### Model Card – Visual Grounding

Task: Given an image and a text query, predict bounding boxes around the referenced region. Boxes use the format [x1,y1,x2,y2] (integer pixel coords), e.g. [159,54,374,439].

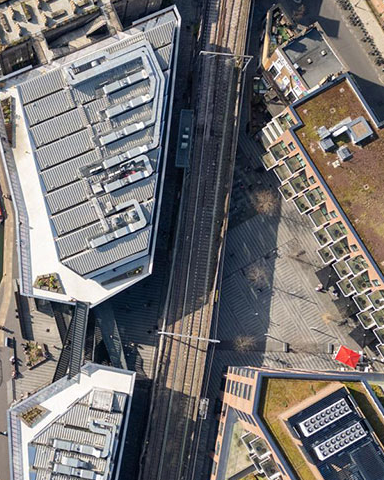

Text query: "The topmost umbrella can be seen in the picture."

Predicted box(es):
[314,266,339,289]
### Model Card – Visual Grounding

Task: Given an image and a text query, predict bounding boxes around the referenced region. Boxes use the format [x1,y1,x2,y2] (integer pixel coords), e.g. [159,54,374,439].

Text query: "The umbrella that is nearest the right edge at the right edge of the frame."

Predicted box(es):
[352,327,377,347]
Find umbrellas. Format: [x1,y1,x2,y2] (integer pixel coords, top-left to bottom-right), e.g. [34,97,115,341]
[335,346,360,368]
[352,327,377,347]
[335,295,359,317]
[314,266,339,289]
